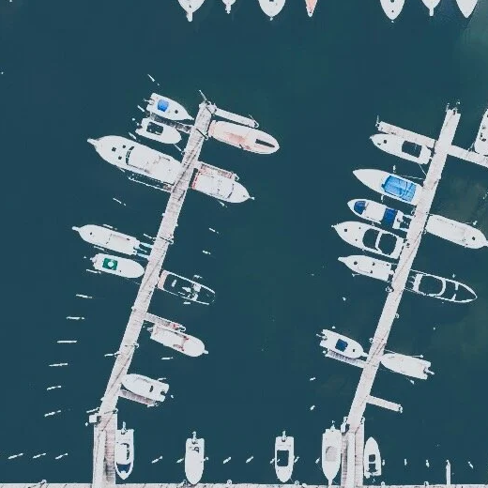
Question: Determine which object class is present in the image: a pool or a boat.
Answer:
boat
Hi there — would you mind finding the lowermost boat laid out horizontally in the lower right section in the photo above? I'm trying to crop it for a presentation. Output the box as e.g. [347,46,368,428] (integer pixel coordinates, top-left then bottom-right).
[380,353,437,382]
